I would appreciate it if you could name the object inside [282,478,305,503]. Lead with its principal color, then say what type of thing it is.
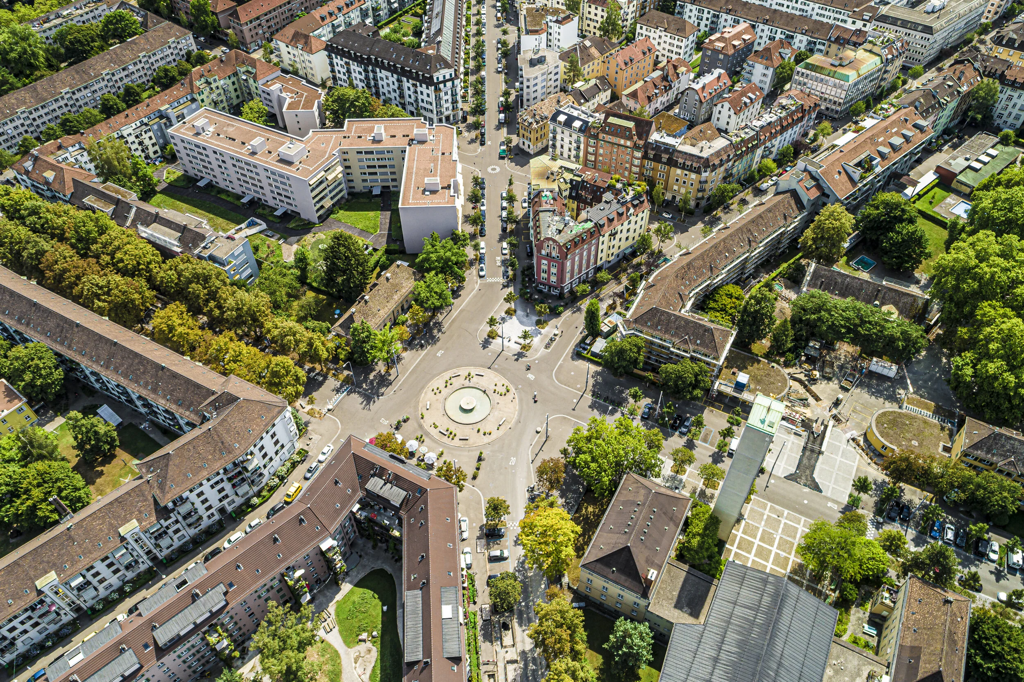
yellow vehicle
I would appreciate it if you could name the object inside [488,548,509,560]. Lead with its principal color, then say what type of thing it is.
white vehicle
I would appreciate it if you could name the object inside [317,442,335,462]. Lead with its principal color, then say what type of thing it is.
white car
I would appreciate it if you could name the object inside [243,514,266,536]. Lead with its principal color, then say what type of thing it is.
white car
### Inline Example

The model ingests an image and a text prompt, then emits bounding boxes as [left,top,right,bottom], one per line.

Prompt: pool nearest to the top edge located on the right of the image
[950,199,972,218]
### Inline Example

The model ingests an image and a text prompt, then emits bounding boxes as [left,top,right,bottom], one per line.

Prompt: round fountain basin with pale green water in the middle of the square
[440,383,496,428]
